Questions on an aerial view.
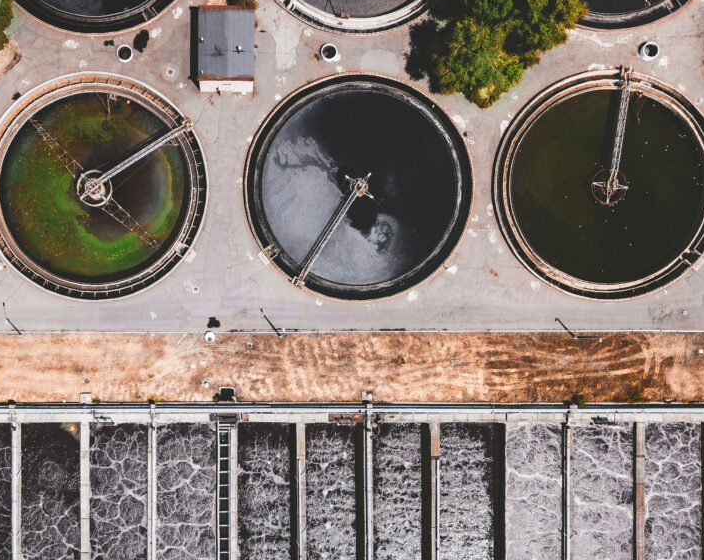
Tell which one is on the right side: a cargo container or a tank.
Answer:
tank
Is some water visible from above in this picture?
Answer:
Yes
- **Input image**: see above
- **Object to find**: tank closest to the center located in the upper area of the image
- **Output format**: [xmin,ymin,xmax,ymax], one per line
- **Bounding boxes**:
[241,69,475,303]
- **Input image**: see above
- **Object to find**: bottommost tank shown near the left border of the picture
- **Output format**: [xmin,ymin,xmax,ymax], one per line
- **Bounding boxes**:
[0,70,209,301]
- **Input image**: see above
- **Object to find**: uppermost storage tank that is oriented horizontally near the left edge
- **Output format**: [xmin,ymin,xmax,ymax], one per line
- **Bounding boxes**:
[15,0,179,36]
